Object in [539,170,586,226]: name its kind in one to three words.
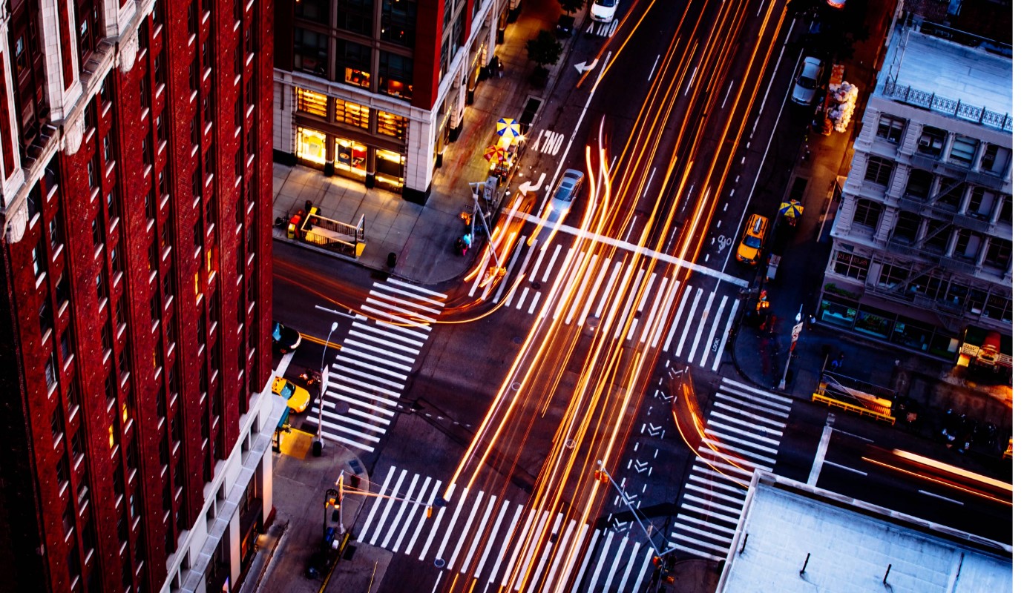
car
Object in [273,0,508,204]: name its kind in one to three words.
building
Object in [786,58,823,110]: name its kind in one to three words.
car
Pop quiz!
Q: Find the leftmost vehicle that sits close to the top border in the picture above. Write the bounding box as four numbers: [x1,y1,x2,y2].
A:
[587,0,623,30]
